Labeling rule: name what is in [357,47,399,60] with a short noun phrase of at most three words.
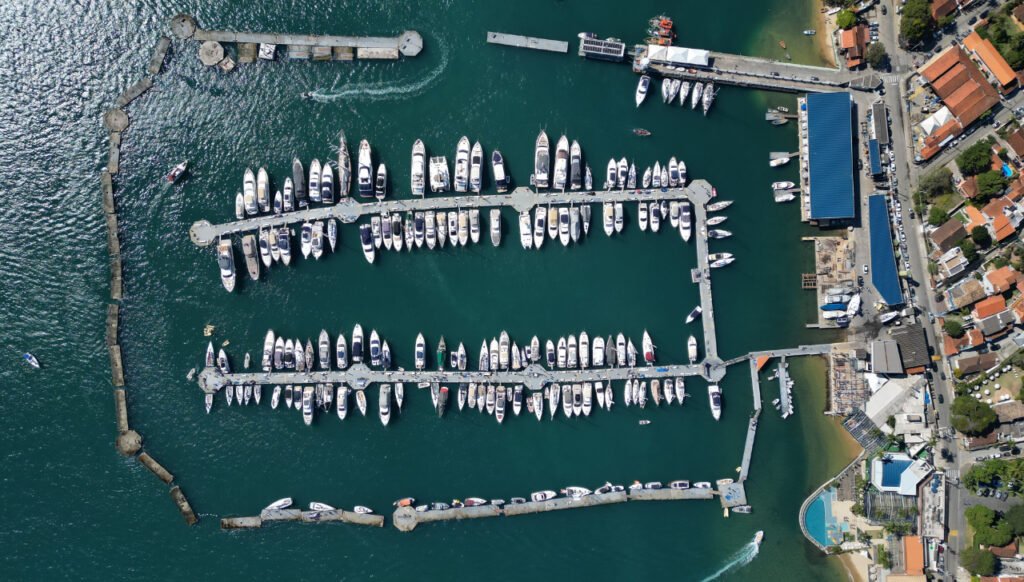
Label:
pier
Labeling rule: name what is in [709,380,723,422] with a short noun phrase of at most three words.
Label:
boat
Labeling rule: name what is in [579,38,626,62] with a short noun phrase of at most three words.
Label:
ship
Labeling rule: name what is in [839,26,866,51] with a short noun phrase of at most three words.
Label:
house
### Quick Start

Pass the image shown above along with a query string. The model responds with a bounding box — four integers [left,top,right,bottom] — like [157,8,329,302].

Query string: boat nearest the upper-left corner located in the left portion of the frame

[167,160,188,183]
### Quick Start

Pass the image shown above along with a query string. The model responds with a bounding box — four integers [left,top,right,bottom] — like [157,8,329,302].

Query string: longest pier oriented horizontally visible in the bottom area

[199,356,726,393]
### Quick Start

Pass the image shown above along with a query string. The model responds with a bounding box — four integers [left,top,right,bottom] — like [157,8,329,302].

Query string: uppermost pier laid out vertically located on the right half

[690,205,718,357]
